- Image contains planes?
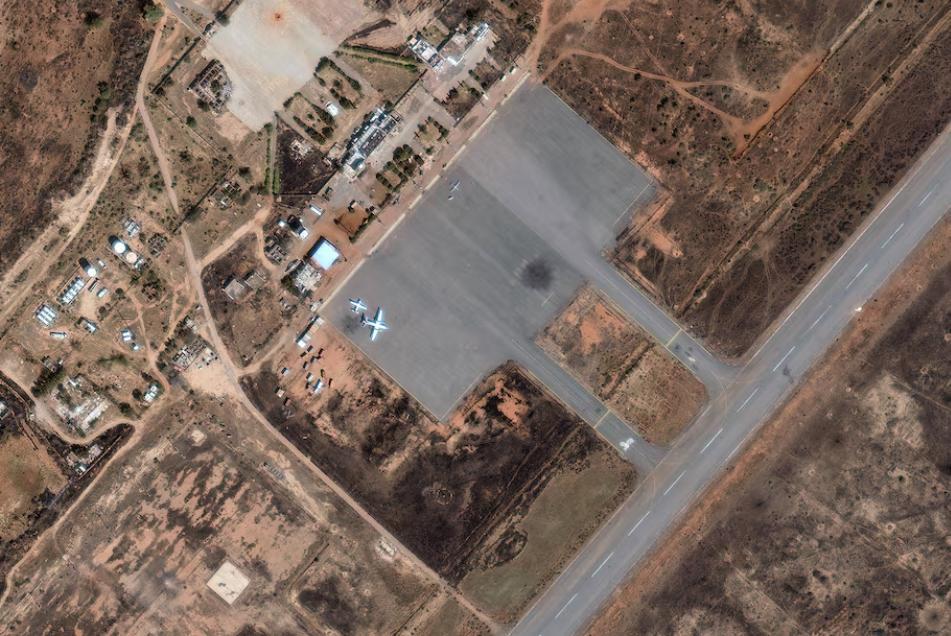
Yes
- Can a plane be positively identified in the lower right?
No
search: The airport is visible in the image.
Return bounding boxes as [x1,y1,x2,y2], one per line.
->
[317,74,951,636]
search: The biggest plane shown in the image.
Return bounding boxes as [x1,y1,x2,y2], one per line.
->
[362,310,388,339]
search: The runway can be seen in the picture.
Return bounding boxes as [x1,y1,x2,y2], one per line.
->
[508,134,951,636]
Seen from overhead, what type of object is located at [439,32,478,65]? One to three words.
building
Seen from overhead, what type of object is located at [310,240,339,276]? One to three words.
hangar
